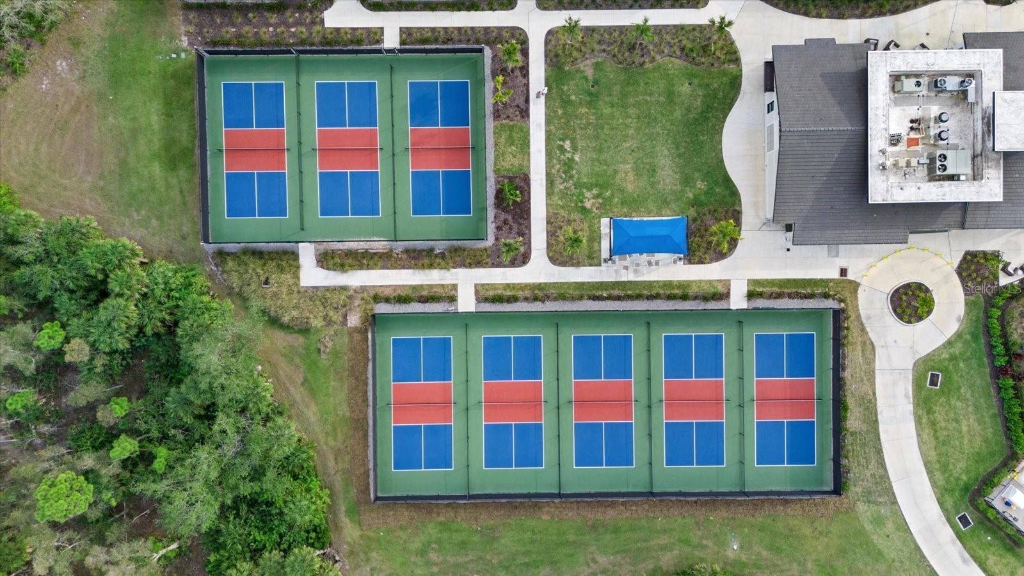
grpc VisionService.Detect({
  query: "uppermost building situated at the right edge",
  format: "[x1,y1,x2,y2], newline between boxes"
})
[763,32,1024,246]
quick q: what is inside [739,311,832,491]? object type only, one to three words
sports court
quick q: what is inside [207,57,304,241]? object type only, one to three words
sports court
